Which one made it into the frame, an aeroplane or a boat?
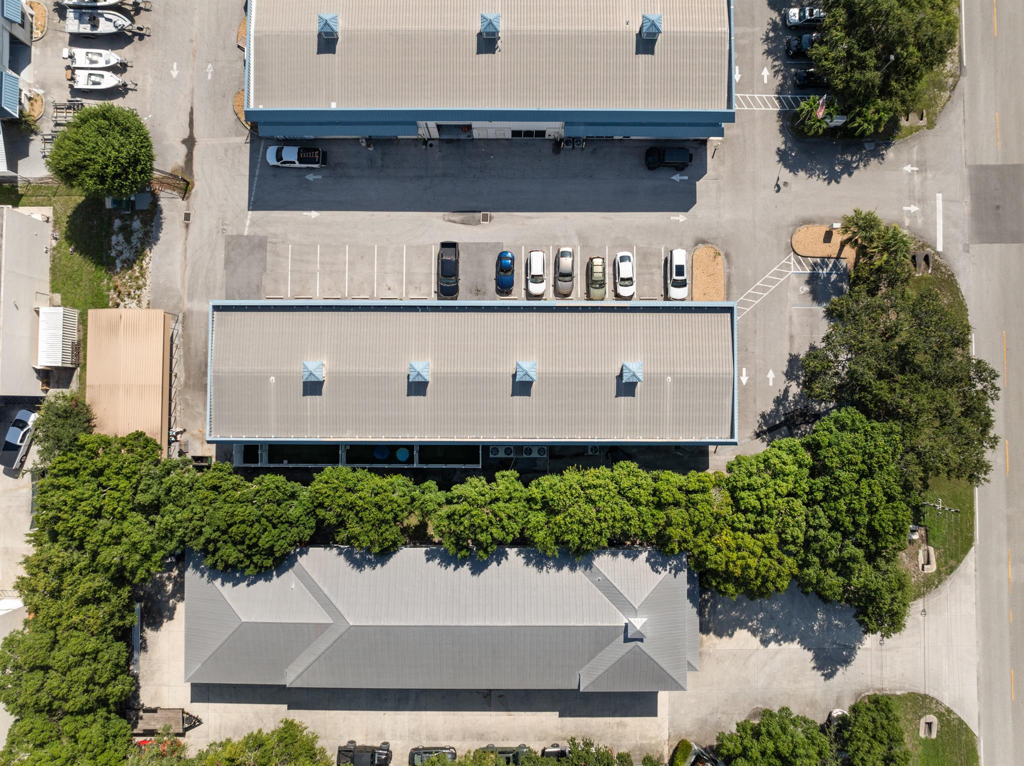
boat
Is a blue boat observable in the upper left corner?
No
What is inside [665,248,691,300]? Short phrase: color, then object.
white car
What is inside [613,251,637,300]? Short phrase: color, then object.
white car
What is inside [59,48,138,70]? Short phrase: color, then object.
white boat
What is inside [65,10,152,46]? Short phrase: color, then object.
white boat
